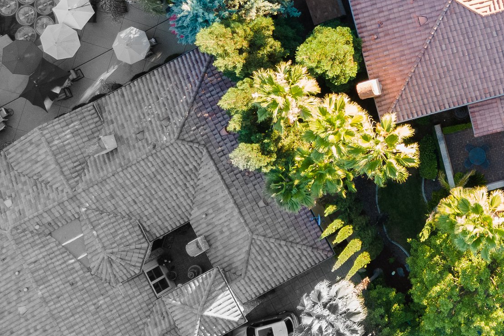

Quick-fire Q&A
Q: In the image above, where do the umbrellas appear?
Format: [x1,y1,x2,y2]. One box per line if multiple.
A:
[24,69,70,109]
[4,38,51,76]
[115,27,156,63]
[43,22,88,61]
[59,0,101,34]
